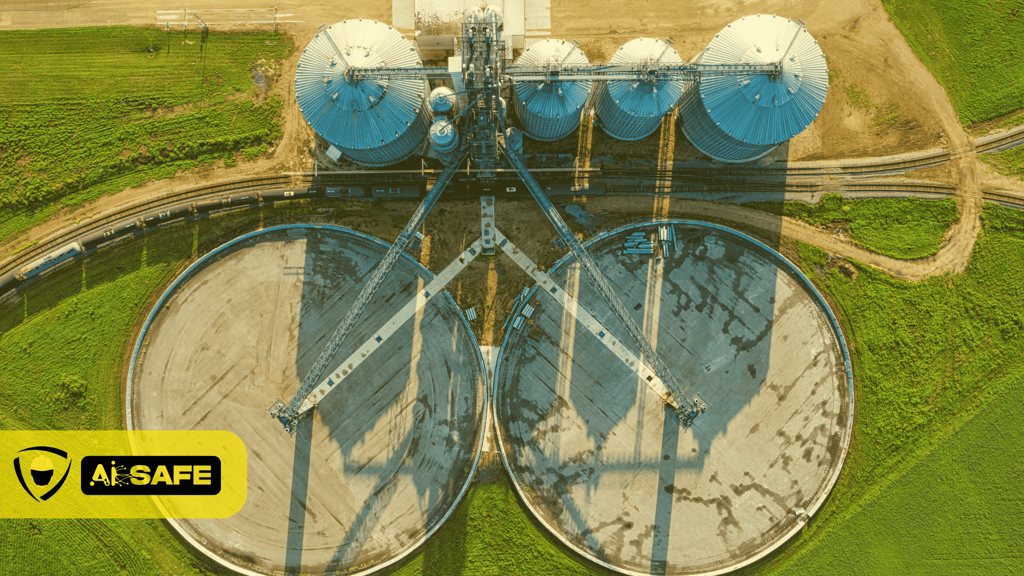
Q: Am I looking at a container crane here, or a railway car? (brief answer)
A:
railway car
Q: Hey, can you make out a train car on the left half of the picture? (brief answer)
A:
Yes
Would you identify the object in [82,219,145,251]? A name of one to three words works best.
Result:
rail car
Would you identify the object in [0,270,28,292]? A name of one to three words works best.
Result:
rail car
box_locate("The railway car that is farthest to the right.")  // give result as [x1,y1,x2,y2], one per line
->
[542,182,609,195]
